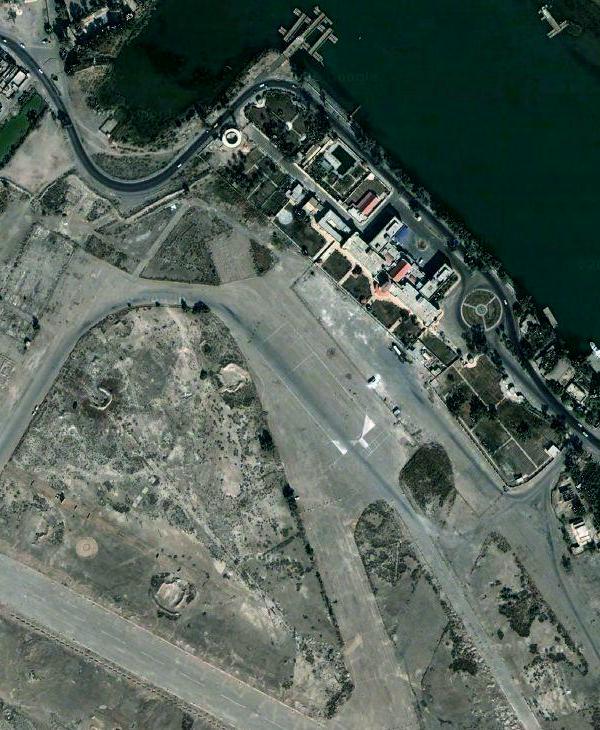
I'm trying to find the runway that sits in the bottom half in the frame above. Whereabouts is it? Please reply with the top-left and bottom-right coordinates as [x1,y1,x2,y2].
[0,556,340,730]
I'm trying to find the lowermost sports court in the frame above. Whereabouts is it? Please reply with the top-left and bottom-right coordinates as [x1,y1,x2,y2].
[420,331,460,366]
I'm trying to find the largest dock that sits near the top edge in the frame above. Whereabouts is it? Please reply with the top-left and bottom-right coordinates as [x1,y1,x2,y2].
[260,6,332,78]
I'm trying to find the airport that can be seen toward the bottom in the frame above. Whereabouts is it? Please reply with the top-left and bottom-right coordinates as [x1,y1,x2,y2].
[0,250,571,730]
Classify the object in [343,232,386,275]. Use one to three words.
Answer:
building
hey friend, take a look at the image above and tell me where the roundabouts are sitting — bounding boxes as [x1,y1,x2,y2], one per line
[460,289,502,331]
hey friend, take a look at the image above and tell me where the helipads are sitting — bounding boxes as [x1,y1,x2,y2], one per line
[76,536,98,557]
